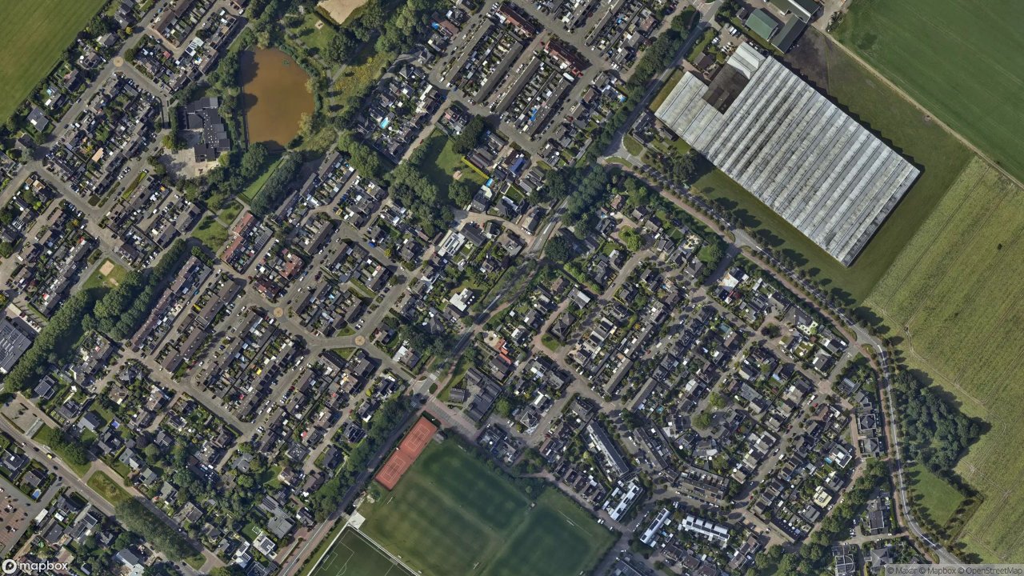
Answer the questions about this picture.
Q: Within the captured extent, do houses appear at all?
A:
Yes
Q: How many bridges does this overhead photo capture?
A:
none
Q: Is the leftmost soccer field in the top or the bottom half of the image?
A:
bottom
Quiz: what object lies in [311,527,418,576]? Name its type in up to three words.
soccer field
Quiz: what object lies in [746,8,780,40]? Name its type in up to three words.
barn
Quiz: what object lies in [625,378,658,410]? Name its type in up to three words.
house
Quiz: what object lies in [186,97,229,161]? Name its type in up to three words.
building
